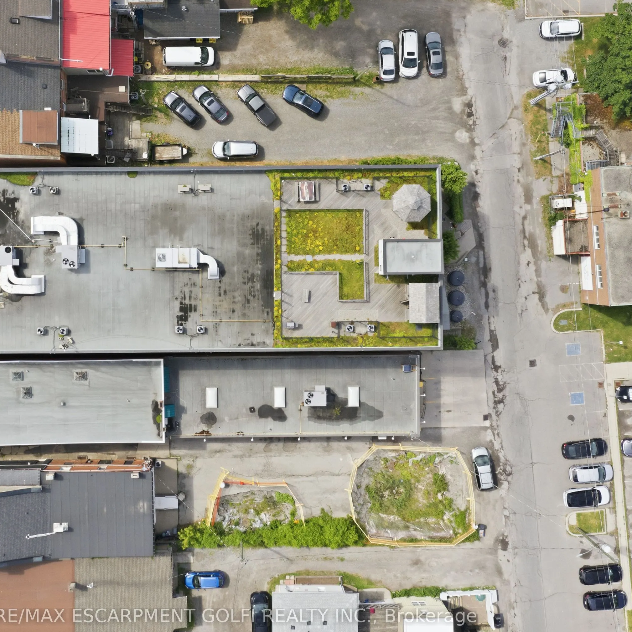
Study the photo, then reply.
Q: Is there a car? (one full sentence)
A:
Yes, I can see a car in this picture.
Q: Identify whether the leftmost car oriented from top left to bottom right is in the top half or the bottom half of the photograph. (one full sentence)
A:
Seen from above, the leftmost car oriented from top left to bottom right lies in the top half of the view.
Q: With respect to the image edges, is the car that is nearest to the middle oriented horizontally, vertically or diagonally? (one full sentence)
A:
From this overhead view, the car that is nearest to the middle appears to run horizontally.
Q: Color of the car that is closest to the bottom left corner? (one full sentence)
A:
The car that is closest to the bottom left corner is blue.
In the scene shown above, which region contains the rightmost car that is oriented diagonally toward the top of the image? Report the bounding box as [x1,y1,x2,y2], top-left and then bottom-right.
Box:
[281,82,327,121]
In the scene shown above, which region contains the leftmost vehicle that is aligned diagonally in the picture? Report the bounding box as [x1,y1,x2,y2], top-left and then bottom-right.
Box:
[163,88,203,132]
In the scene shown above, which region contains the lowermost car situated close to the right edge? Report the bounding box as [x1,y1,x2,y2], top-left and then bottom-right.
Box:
[580,586,626,611]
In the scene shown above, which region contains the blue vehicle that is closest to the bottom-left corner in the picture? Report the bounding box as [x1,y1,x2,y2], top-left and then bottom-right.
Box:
[183,567,226,591]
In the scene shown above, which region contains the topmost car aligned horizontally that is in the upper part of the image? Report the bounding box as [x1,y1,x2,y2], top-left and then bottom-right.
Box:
[534,16,584,41]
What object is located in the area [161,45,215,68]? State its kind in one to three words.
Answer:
vehicle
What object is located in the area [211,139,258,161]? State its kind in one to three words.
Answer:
car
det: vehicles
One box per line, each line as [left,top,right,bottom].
[191,82,233,127]
[562,484,610,507]
[580,586,626,611]
[281,82,327,121]
[235,81,280,132]
[211,139,258,161]
[558,436,606,458]
[566,460,612,484]
[397,28,421,79]
[183,567,226,591]
[619,433,632,456]
[576,560,621,585]
[163,88,203,132]
[249,590,271,632]
[534,16,584,41]
[469,443,493,492]
[377,39,397,85]
[530,67,577,88]
[423,32,445,79]
[161,45,215,68]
